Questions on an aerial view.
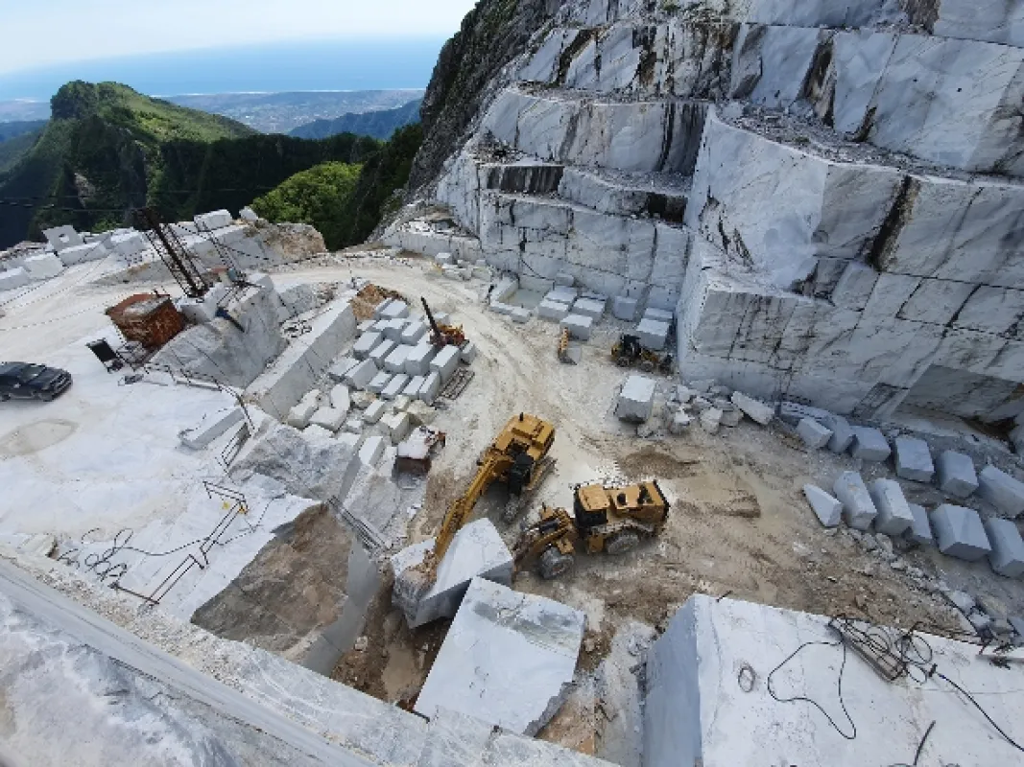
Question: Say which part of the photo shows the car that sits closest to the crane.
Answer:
left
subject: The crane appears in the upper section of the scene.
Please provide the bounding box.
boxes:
[123,198,219,301]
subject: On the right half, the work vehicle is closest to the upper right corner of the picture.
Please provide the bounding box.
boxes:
[602,338,673,382]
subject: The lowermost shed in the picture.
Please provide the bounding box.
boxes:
[104,283,190,349]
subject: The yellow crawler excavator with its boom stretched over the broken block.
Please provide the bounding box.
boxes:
[391,418,559,618]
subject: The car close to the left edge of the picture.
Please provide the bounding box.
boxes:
[0,350,77,406]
